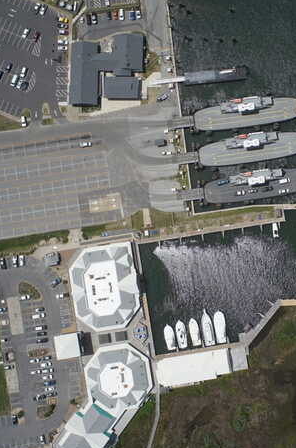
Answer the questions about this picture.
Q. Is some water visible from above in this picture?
Yes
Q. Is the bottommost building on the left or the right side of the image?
left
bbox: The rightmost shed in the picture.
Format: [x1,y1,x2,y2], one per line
[230,346,248,371]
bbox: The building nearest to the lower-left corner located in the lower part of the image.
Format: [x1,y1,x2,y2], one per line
[58,396,130,448]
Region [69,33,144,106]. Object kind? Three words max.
building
